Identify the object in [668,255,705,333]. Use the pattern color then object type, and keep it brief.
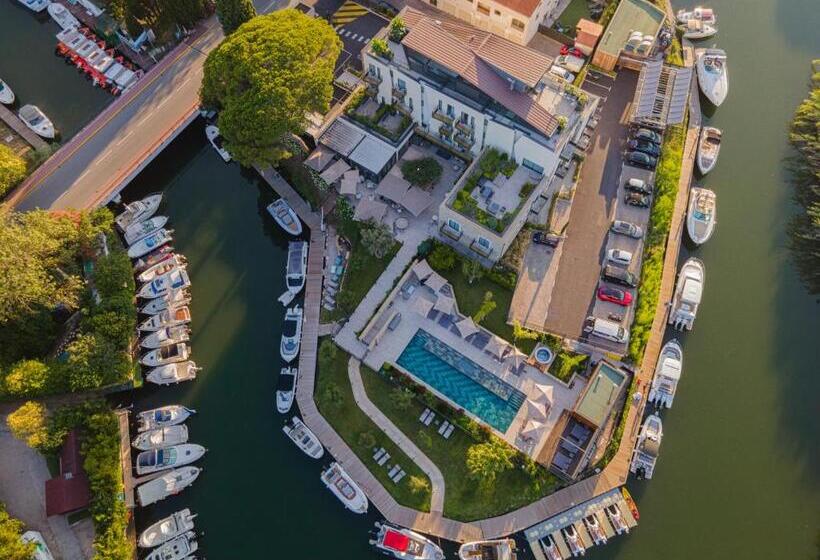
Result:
white boat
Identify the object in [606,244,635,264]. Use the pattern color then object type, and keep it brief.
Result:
white car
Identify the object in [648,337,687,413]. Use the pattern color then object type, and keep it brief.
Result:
white boat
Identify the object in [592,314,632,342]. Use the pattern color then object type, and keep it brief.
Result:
white van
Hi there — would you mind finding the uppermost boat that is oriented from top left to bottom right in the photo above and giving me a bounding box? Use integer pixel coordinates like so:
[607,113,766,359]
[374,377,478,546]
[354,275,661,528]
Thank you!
[46,0,83,30]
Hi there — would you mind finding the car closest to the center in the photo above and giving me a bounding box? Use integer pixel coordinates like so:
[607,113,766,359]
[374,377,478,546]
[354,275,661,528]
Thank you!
[533,229,562,249]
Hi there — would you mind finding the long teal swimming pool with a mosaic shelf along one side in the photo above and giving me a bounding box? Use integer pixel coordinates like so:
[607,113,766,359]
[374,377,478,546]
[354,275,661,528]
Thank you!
[392,324,529,437]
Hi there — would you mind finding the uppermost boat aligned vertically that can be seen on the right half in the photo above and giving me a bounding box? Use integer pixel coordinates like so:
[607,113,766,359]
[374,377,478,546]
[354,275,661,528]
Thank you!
[696,45,730,109]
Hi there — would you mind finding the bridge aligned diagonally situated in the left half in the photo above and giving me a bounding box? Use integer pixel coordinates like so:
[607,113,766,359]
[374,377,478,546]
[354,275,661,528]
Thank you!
[0,0,323,300]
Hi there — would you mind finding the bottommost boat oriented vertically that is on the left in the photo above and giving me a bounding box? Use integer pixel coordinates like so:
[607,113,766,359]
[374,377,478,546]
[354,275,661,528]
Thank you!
[276,365,298,416]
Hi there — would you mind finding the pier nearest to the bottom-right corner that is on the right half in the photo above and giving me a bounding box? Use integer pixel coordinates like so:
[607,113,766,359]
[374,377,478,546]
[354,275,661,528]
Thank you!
[524,489,637,560]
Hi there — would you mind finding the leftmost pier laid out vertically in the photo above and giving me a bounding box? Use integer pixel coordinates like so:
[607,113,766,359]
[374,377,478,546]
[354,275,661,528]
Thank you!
[117,408,138,560]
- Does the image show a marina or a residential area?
marina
